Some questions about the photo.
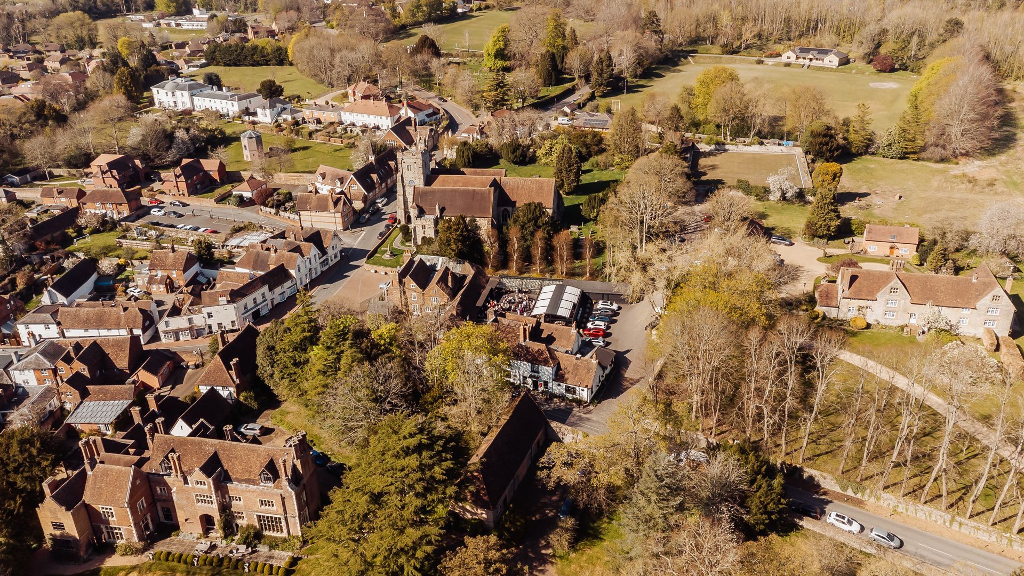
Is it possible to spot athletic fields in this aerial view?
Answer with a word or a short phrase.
Yes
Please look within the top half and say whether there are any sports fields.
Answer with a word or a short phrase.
Yes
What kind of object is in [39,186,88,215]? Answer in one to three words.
house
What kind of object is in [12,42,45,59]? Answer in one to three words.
house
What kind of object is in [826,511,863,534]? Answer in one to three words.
car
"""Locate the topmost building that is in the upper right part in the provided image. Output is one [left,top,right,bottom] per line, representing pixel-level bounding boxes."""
[773,47,845,67]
